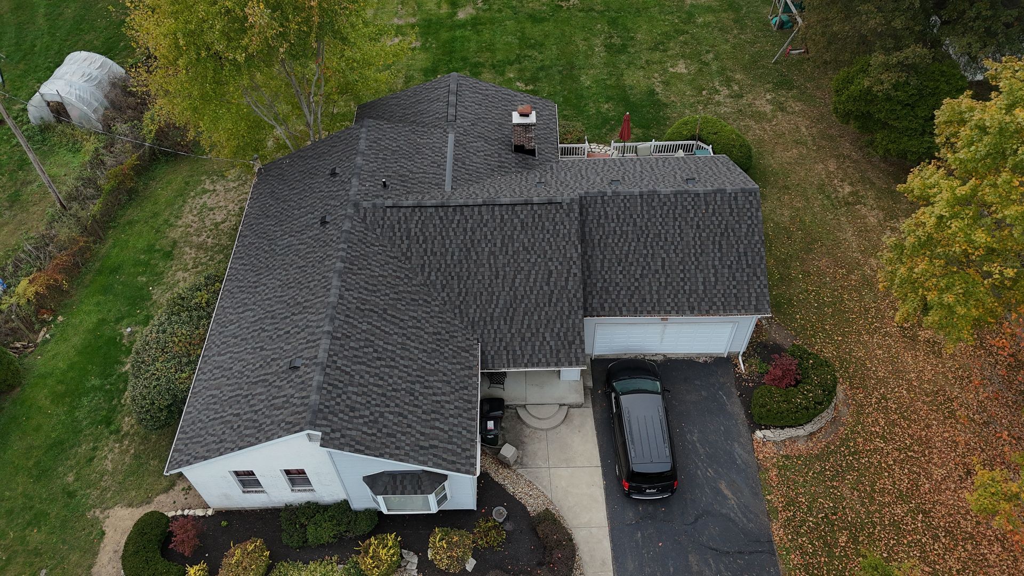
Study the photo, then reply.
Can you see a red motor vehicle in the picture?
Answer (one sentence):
No, no red motor vehicle can be seen from above.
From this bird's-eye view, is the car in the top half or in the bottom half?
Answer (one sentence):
The car is in the bottom half of the image.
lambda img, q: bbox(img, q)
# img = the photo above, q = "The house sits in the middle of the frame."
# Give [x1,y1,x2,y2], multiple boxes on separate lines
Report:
[162,73,772,516]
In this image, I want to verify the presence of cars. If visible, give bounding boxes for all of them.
[604,363,680,502]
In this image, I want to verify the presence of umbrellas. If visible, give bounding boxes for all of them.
[617,113,632,150]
